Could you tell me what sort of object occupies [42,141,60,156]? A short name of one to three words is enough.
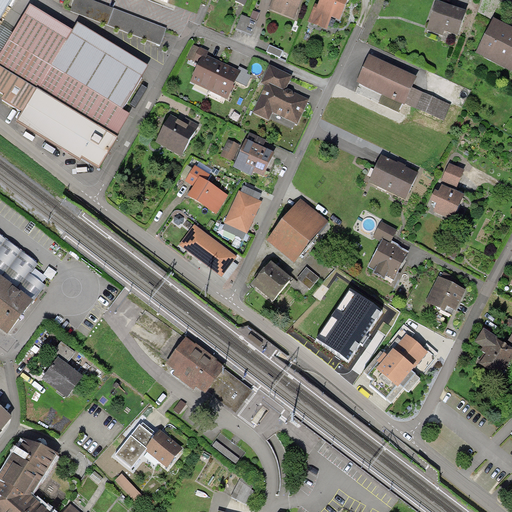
vehicle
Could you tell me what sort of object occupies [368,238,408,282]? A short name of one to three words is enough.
house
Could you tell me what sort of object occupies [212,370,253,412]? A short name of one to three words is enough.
building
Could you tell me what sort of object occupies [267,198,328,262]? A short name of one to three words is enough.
barn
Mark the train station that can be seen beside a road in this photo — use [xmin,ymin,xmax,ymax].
[63,207,478,512]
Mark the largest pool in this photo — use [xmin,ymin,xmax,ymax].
[362,218,377,232]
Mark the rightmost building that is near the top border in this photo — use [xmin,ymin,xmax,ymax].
[476,18,512,74]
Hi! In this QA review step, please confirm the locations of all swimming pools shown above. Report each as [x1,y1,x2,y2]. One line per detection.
[362,218,377,232]
[251,64,262,75]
